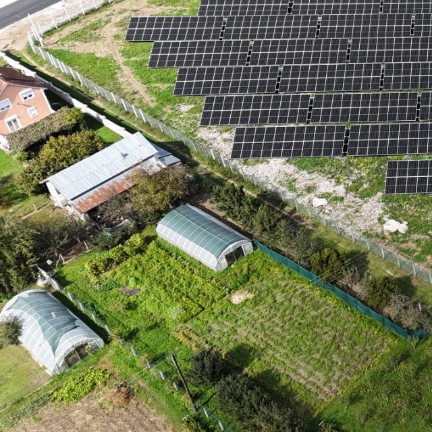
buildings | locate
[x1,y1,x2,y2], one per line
[154,195,253,272]
[0,50,55,133]
[0,280,103,376]
[38,131,191,227]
